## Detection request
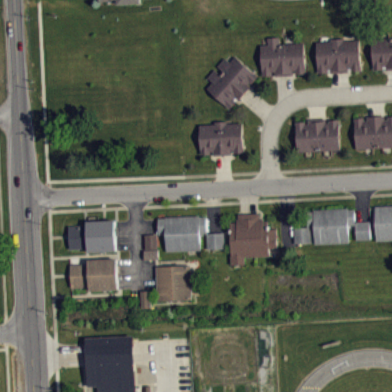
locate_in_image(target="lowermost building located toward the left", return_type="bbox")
[84,338,138,392]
